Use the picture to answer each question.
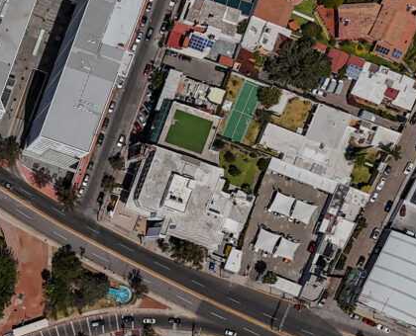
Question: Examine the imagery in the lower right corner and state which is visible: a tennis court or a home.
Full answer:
Looking in the lower right corner, you will find a home.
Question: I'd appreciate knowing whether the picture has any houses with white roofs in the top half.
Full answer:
Yes, the scene does show a house with a white roof in the top half.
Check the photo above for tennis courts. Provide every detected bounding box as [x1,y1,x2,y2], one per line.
[223,78,261,143]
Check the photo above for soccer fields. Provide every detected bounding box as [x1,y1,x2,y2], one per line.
[165,110,214,154]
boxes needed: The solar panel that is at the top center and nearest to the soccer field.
[189,34,215,52]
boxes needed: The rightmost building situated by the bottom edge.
[353,231,416,321]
